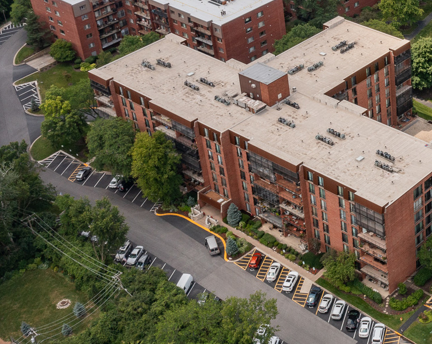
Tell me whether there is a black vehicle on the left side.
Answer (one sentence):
Yes, there is a black vehicle on the left side.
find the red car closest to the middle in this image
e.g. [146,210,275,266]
[247,252,262,271]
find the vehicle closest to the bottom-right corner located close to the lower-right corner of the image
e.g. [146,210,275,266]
[371,324,386,344]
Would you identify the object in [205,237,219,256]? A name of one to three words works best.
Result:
car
